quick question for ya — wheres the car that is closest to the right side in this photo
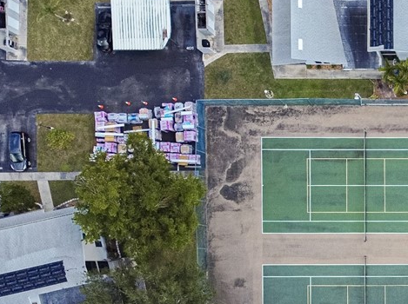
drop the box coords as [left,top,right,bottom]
[94,9,114,52]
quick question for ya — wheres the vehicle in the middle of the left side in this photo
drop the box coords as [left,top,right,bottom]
[4,131,28,171]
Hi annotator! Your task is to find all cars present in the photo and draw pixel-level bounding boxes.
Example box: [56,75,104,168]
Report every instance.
[4,131,28,171]
[94,9,114,52]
